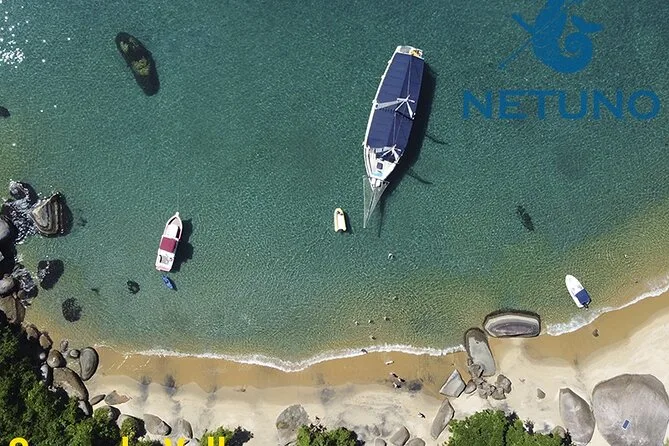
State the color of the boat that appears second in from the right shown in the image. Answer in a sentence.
In this view, the boat that appears second in from the right is blue.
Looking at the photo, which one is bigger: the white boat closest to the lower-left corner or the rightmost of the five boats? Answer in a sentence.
Of the two, the white boat closest to the lower-left corner is bigger, while the rightmost of the five boats is smaller.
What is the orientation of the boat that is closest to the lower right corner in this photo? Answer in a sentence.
What the image shows is the boat that is closest to the lower right corner lying diagonally.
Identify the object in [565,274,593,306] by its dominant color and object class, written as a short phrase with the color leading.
white boat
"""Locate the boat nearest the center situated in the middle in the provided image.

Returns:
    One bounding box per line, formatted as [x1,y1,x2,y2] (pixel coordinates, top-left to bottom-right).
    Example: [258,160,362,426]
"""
[334,208,347,232]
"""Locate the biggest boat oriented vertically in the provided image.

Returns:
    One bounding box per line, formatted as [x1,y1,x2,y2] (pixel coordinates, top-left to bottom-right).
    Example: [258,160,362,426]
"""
[365,46,425,229]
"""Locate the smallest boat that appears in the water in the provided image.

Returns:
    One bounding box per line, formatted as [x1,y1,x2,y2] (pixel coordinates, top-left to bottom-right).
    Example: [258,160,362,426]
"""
[160,274,174,289]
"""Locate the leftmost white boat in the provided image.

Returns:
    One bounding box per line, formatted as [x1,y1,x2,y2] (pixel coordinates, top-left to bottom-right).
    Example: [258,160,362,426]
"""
[155,211,182,274]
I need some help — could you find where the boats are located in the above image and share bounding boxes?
[334,208,347,232]
[160,274,174,289]
[565,274,593,306]
[365,46,425,229]
[155,211,182,274]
